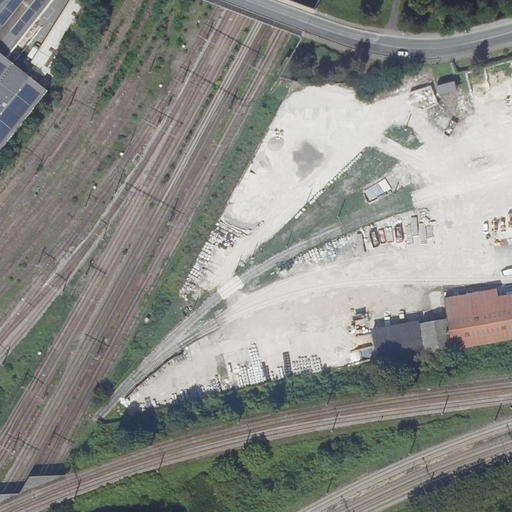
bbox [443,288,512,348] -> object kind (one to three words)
building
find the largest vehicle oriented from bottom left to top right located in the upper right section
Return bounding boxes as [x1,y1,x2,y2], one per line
[444,116,460,136]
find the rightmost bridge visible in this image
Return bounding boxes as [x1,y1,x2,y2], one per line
[202,0,320,41]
